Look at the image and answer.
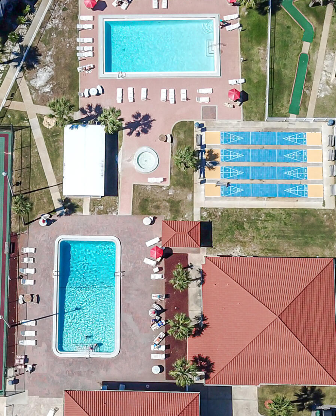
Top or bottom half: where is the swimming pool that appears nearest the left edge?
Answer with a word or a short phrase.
bottom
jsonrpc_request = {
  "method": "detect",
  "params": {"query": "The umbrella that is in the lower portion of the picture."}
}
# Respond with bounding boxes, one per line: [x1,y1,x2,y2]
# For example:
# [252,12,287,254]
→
[149,246,163,259]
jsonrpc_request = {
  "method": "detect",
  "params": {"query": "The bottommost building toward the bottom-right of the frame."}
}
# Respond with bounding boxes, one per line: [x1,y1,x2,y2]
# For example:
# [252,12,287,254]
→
[186,256,336,385]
